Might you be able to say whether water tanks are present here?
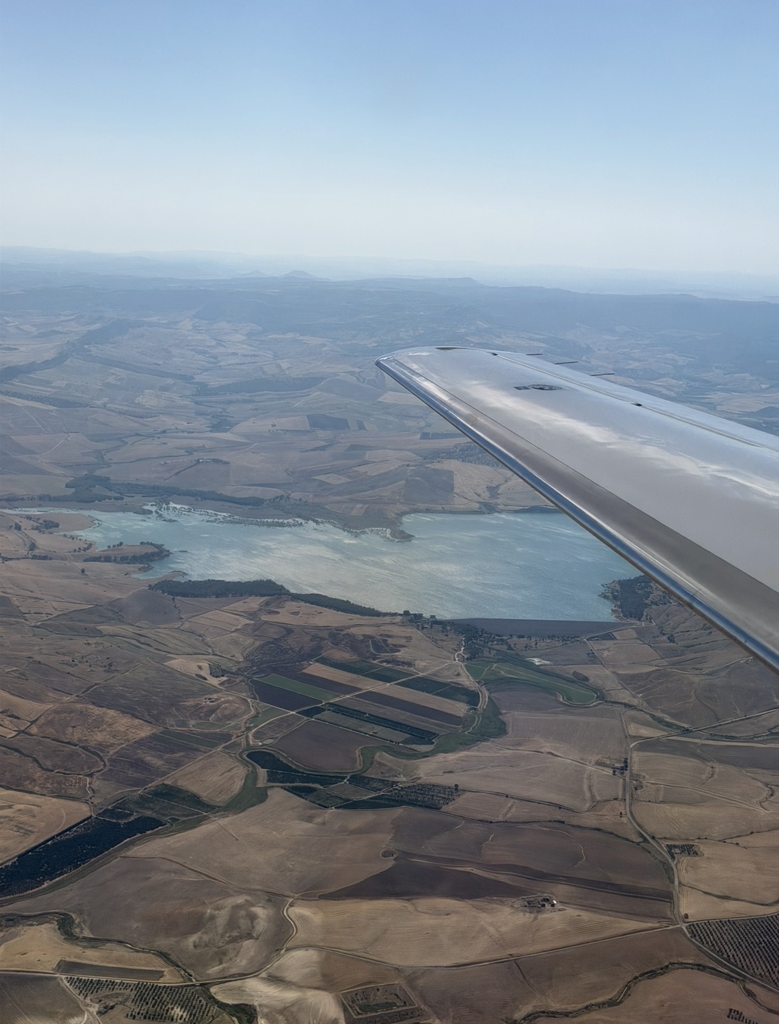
No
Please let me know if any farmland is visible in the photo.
Yes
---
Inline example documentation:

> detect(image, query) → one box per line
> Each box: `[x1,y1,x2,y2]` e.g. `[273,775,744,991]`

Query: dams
[434,618,629,636]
